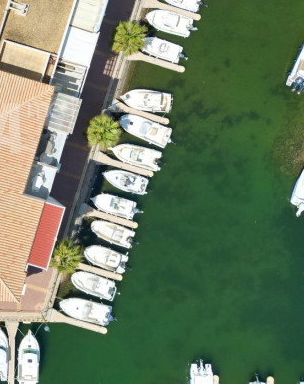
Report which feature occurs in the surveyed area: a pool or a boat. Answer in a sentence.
I can see a boat in this picture.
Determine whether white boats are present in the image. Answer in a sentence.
Yes, there is a white boat in the image.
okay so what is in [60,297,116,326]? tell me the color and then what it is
white boat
